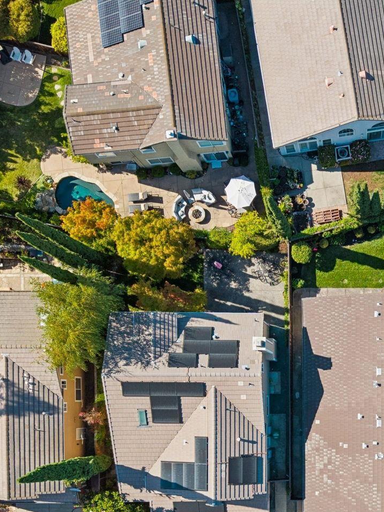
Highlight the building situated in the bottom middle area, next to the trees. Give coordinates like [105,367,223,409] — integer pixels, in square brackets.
[101,312,286,512]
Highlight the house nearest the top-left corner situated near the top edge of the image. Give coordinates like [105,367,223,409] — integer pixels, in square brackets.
[63,0,234,176]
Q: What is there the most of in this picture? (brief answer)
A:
buildings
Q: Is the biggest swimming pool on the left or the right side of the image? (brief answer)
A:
left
